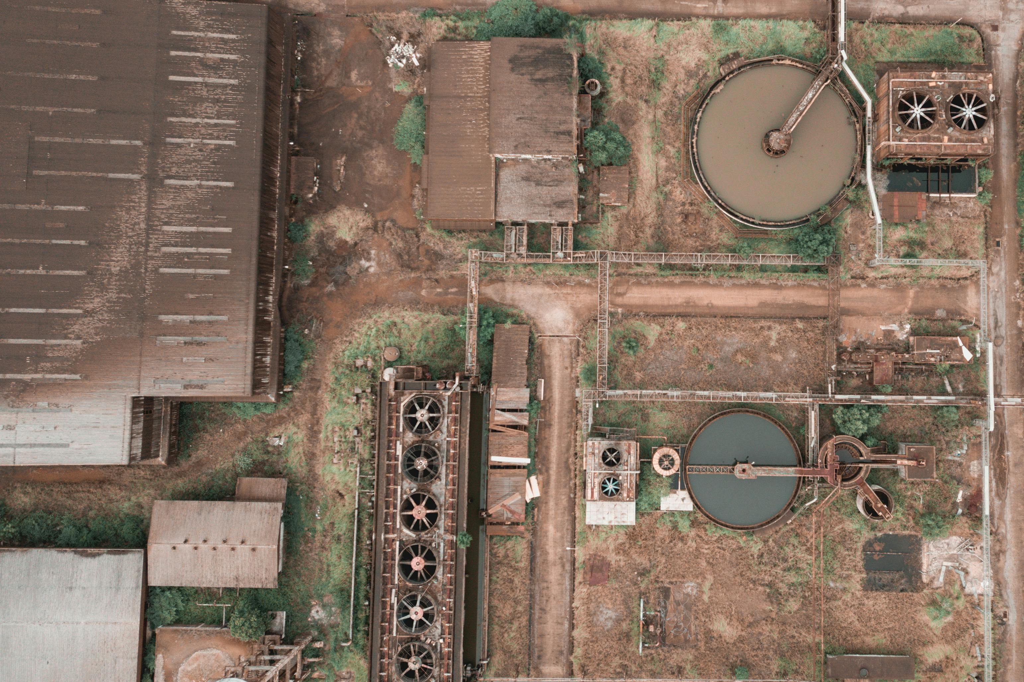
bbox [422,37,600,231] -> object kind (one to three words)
building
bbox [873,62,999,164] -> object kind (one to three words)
cooling tower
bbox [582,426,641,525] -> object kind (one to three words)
cooling tower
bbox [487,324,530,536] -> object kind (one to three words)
shed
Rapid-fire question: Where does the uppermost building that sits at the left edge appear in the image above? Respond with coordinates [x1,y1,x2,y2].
[0,0,296,466]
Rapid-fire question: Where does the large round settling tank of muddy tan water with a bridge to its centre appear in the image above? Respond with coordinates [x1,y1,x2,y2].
[683,49,863,240]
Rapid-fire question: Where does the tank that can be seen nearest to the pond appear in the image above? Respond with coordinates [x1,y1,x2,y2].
[849,477,894,521]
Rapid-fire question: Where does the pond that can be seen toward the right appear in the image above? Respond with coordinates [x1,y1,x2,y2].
[863,534,922,592]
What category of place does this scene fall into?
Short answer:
industrial area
